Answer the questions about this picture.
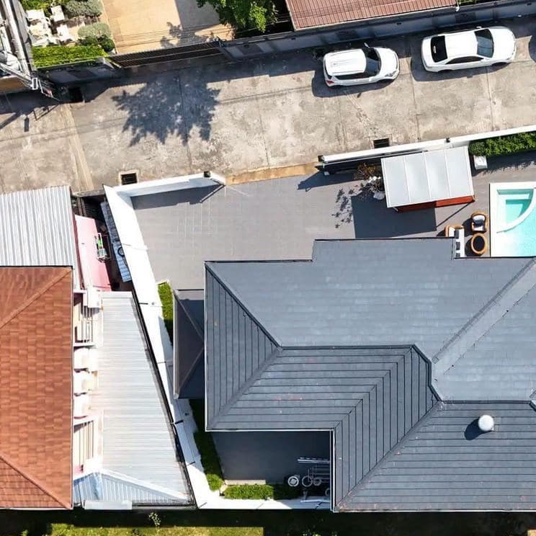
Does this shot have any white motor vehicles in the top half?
Yes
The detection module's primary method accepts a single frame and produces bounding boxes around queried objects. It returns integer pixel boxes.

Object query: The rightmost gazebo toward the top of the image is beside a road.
[382,145,475,213]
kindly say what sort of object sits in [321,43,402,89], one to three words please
car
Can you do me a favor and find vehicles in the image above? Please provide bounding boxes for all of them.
[321,43,402,89]
[421,25,515,75]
